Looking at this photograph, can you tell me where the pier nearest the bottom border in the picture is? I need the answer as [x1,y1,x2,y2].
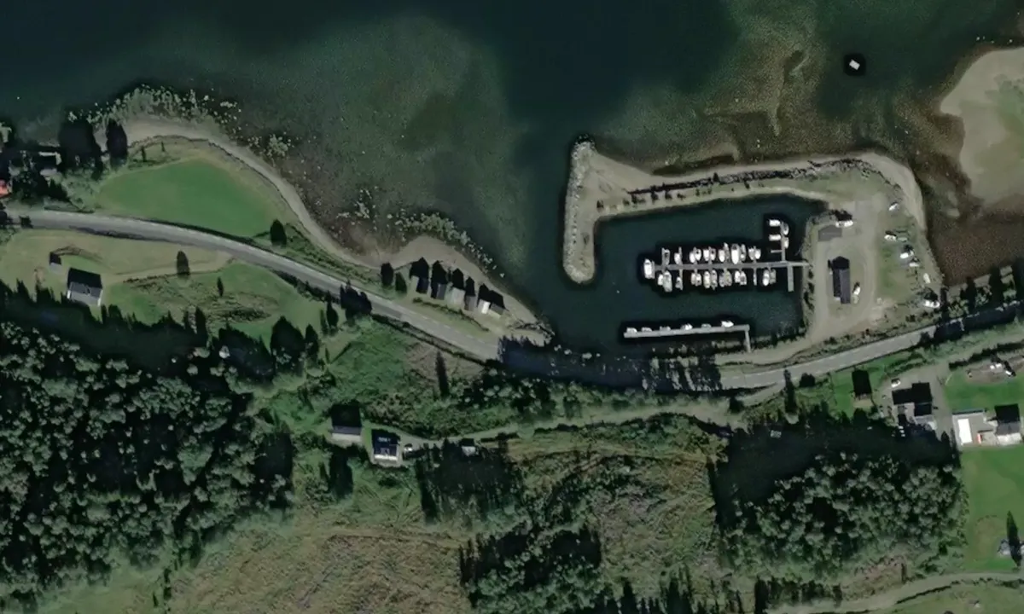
[624,325,751,352]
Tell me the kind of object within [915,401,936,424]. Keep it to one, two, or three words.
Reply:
house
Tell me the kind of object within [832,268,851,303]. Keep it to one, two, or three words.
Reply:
shed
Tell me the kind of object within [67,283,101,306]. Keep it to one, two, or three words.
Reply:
house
